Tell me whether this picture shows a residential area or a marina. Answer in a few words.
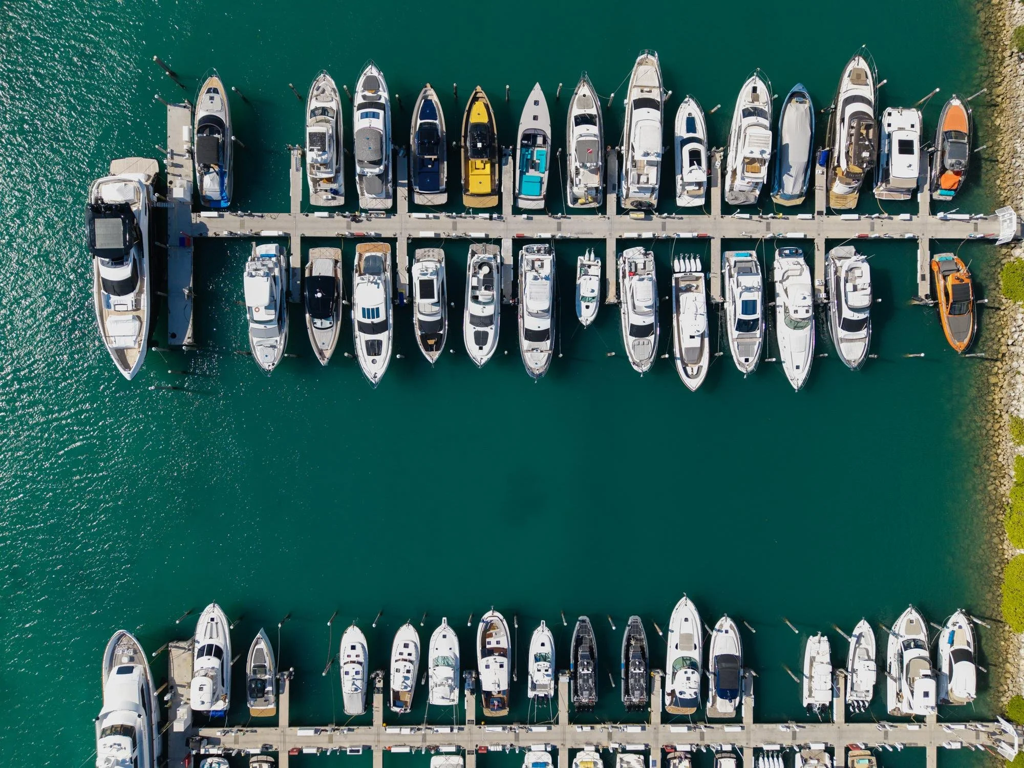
marina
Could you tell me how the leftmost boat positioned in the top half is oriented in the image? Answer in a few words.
from top to bottom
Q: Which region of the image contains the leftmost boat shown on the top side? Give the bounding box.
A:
[87,157,161,379]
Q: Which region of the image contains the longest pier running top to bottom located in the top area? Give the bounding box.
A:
[167,104,195,345]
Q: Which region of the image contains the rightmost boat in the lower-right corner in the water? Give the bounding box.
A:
[931,606,977,711]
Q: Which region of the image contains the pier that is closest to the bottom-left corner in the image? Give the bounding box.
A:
[169,645,195,768]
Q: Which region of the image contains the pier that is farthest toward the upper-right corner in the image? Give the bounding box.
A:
[914,150,929,214]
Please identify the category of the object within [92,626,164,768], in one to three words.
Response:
boat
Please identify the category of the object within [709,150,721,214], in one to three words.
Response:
pier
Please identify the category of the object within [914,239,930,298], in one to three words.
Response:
pier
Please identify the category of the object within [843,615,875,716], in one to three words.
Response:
boat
